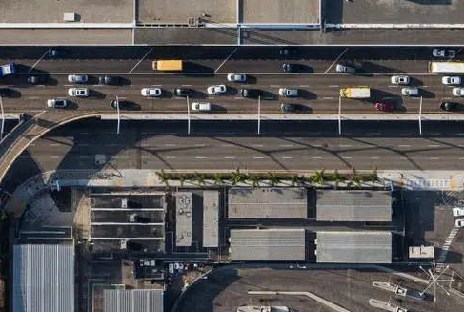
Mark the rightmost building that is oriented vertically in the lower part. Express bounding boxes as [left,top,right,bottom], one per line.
[202,187,219,247]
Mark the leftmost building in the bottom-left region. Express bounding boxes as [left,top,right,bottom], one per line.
[12,242,76,312]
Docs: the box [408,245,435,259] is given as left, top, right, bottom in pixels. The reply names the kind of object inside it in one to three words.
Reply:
building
